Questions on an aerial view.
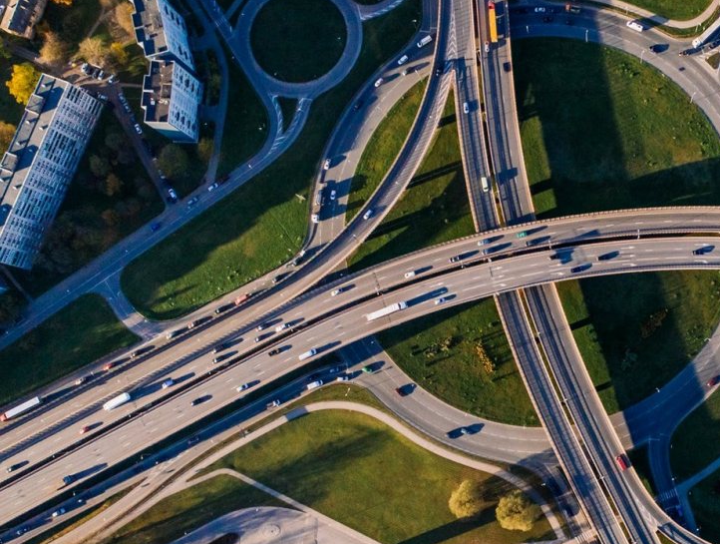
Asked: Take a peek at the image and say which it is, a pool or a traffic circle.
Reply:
traffic circle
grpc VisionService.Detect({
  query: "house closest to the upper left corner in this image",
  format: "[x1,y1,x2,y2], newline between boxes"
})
[0,0,56,42]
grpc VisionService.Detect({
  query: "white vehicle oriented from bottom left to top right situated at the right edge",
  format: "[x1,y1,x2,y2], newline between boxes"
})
[693,16,720,46]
